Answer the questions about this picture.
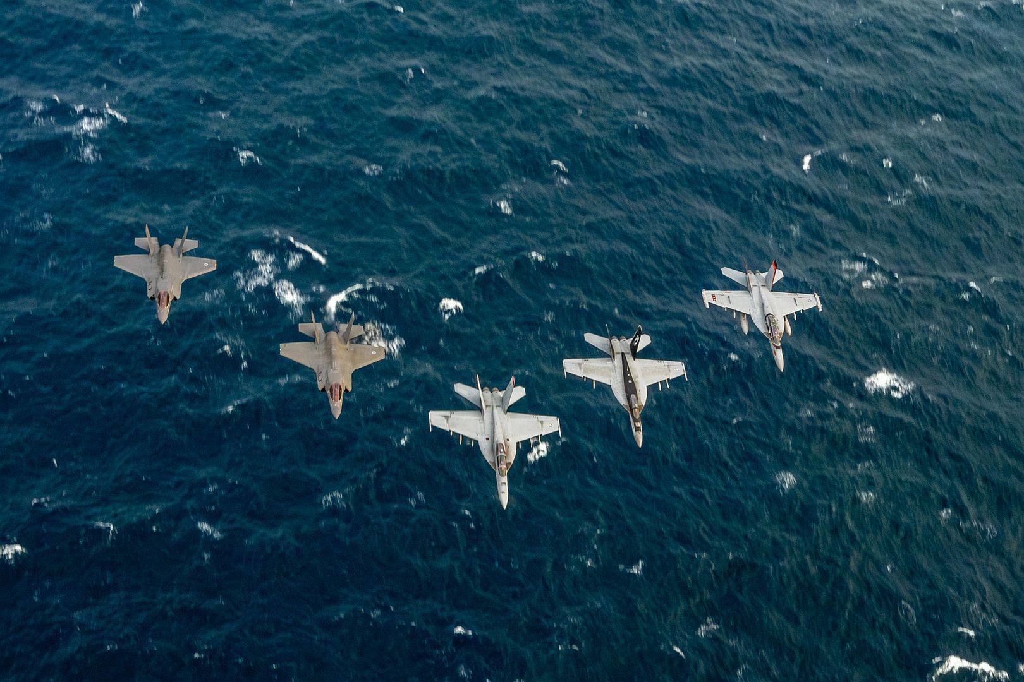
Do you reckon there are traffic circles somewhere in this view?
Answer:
No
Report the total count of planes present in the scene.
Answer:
5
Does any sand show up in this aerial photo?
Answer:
No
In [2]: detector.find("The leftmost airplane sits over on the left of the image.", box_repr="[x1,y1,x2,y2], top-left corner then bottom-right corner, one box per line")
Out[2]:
[114,224,217,324]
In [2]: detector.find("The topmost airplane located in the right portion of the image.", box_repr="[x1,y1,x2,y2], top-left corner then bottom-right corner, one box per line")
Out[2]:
[701,260,822,372]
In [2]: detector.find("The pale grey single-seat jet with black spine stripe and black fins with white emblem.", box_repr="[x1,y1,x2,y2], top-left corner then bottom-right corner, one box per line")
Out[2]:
[562,325,686,448]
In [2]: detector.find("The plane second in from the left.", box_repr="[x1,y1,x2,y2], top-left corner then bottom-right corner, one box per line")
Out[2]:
[279,312,385,419]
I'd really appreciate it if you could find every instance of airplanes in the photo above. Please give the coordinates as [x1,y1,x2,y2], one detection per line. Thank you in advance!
[701,260,822,372]
[114,224,217,324]
[429,376,560,509]
[279,312,385,419]
[562,325,686,448]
